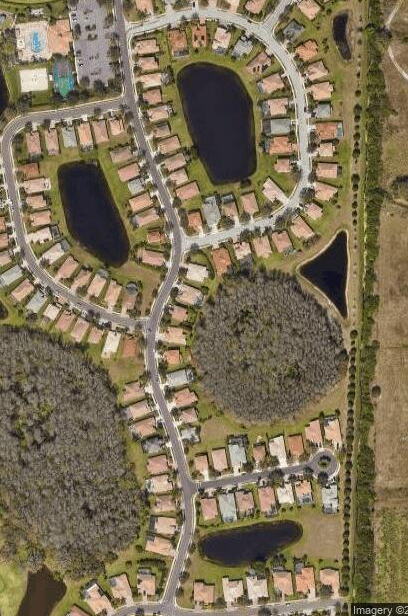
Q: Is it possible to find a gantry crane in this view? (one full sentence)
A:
No, I find no gantry crane anywhere in the image.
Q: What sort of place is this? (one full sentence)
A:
What you see here is a residential area.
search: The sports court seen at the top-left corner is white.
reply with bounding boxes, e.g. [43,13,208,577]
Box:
[20,69,49,93]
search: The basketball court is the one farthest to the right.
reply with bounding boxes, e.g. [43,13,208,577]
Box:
[54,61,74,95]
